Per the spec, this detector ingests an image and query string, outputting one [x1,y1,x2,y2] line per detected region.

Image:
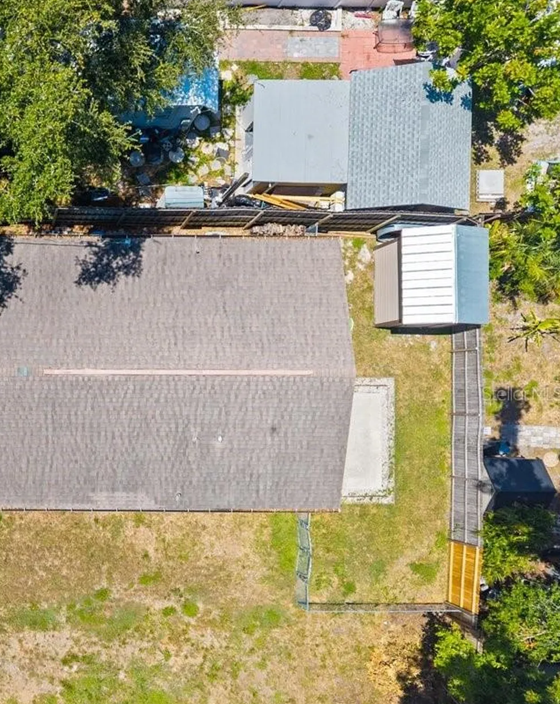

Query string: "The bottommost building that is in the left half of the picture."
[0,233,356,515]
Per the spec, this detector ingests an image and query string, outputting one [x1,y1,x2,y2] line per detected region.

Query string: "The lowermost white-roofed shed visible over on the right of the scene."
[375,223,489,327]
